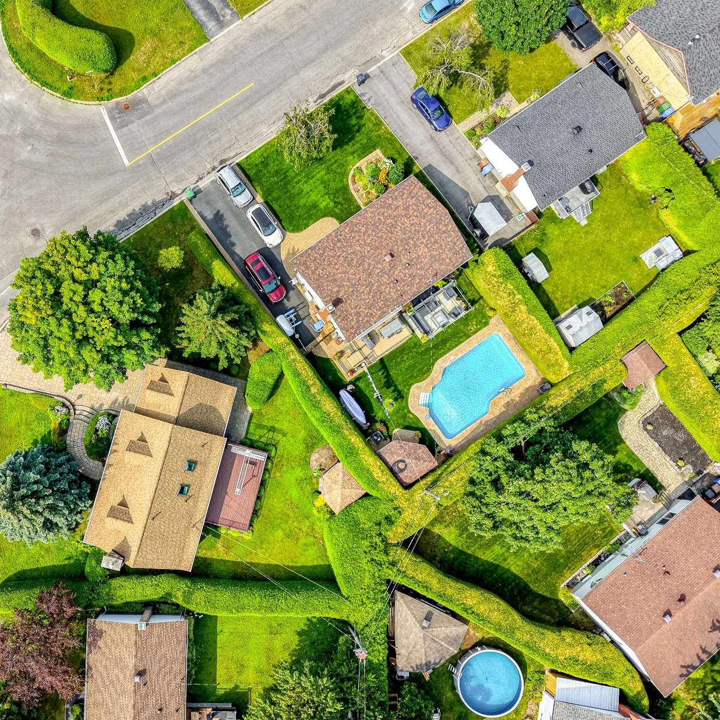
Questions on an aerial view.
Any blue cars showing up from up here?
Yes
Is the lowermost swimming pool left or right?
right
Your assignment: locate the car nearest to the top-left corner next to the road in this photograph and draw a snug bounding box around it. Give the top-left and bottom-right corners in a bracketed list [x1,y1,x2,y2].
[214,161,255,211]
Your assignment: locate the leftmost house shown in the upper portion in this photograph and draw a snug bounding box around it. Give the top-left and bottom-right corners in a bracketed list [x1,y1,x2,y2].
[288,174,474,344]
